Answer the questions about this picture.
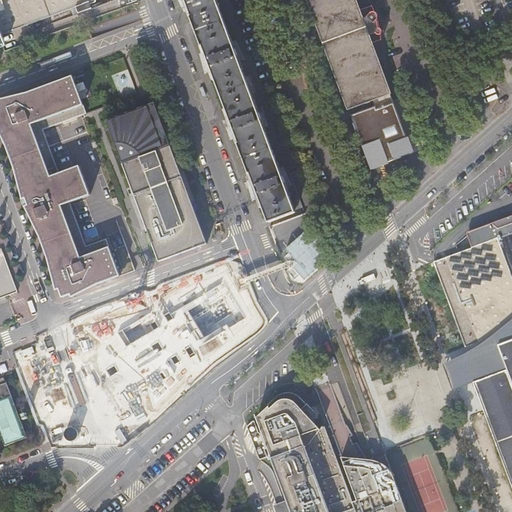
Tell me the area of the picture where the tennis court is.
bottom right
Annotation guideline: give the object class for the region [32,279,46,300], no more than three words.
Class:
vehicle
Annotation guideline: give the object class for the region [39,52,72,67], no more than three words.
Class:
vehicle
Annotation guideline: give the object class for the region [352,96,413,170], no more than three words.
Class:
building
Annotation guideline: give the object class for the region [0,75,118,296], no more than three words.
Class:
building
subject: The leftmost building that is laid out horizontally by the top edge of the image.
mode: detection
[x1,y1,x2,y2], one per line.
[8,0,78,29]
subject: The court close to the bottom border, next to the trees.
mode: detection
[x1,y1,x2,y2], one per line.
[378,436,462,512]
